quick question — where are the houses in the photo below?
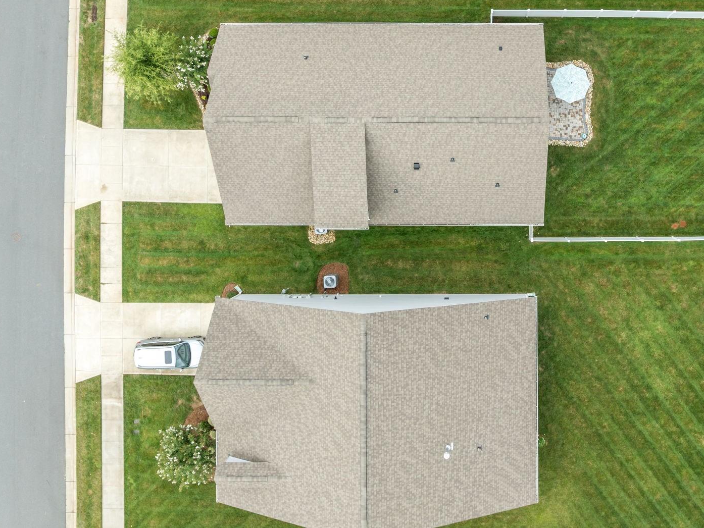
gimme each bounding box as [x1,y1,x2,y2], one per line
[204,21,548,230]
[195,279,538,528]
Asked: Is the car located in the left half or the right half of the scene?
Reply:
left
